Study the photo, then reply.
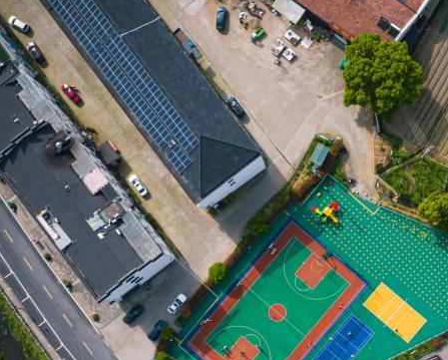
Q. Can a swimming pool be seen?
No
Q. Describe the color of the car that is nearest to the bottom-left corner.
black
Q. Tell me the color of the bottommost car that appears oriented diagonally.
black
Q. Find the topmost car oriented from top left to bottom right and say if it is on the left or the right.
left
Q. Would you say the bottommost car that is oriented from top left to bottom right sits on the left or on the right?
left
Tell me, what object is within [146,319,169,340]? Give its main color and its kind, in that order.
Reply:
black car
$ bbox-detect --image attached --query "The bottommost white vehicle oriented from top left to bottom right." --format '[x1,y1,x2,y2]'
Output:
[128,174,148,197]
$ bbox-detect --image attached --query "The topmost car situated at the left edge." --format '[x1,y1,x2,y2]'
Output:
[7,14,31,34]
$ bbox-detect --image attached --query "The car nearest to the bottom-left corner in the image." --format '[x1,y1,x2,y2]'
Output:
[122,303,145,324]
